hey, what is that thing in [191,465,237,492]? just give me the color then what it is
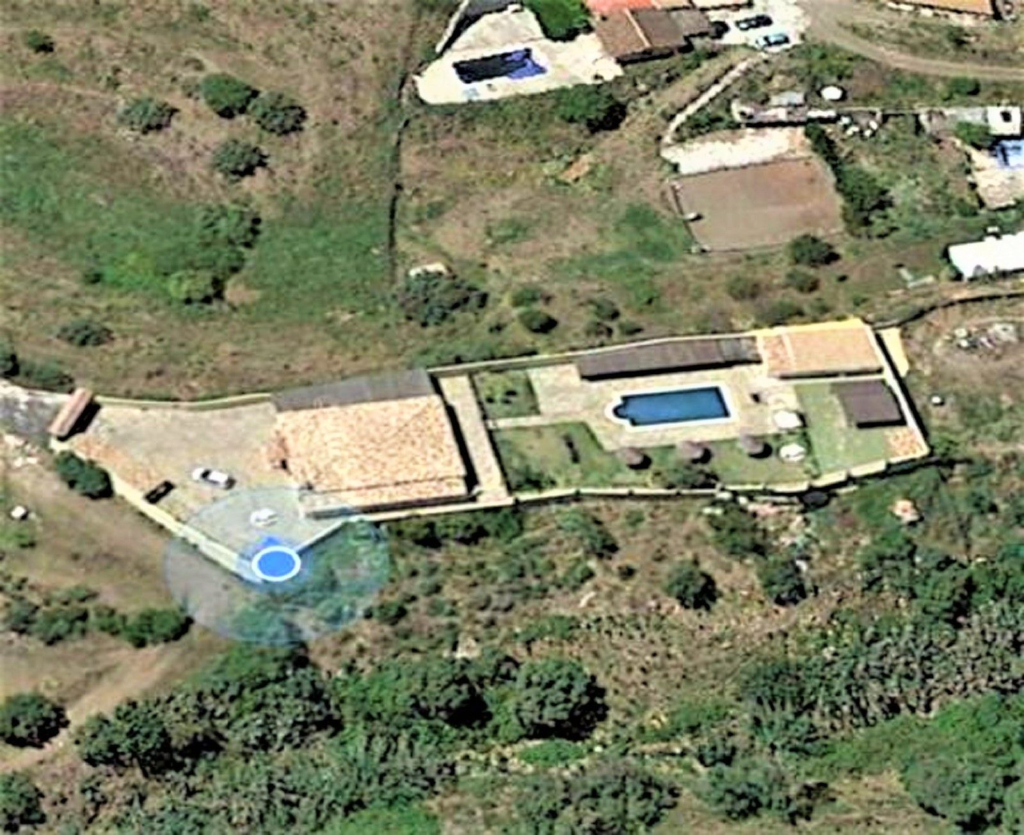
white car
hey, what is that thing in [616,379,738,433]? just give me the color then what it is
blue swimming pool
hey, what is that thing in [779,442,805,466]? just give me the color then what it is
white umbrella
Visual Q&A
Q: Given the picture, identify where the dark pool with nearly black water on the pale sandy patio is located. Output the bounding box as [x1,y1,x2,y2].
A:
[453,49,535,84]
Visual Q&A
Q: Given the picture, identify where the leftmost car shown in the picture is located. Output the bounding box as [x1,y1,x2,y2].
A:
[142,475,178,508]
